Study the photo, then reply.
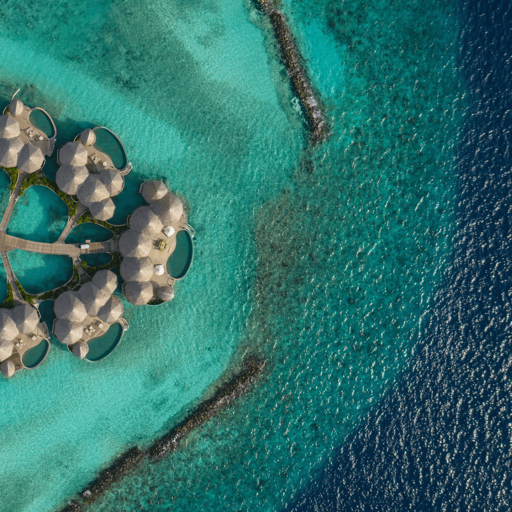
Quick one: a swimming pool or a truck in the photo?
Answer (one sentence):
It is a swimming pool that can be seen here.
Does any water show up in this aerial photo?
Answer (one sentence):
Yes, water shows up in the scene.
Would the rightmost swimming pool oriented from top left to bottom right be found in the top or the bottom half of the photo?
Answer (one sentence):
The rightmost swimming pool oriented from top left to bottom right sits in the top half of the picture.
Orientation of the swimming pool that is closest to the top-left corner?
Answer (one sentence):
What the image shows is the swimming pool that is closest to the top-left corner lying on a diagonal.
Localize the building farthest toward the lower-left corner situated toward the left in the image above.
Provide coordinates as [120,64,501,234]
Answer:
[0,304,51,378]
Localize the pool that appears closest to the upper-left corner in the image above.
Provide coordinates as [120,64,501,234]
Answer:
[29,110,54,140]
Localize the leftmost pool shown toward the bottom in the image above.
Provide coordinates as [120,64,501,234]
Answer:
[22,339,48,368]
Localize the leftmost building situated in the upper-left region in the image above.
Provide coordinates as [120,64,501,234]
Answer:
[0,99,57,176]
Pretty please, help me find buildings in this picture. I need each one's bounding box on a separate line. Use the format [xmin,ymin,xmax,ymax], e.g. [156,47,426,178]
[56,126,133,222]
[0,304,51,378]
[51,268,129,364]
[111,179,195,307]
[0,99,57,176]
